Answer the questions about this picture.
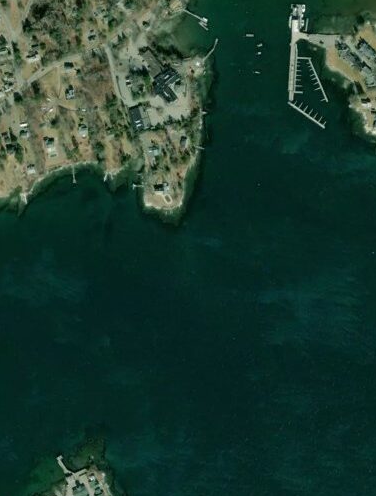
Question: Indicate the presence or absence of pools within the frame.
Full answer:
No, the scene contains no pool.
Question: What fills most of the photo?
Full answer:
Most of the picture is covered by water.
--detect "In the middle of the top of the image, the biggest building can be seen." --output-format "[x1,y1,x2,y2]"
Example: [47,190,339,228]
[140,50,177,103]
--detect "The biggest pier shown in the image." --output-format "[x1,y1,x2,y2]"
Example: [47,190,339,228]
[288,20,311,101]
